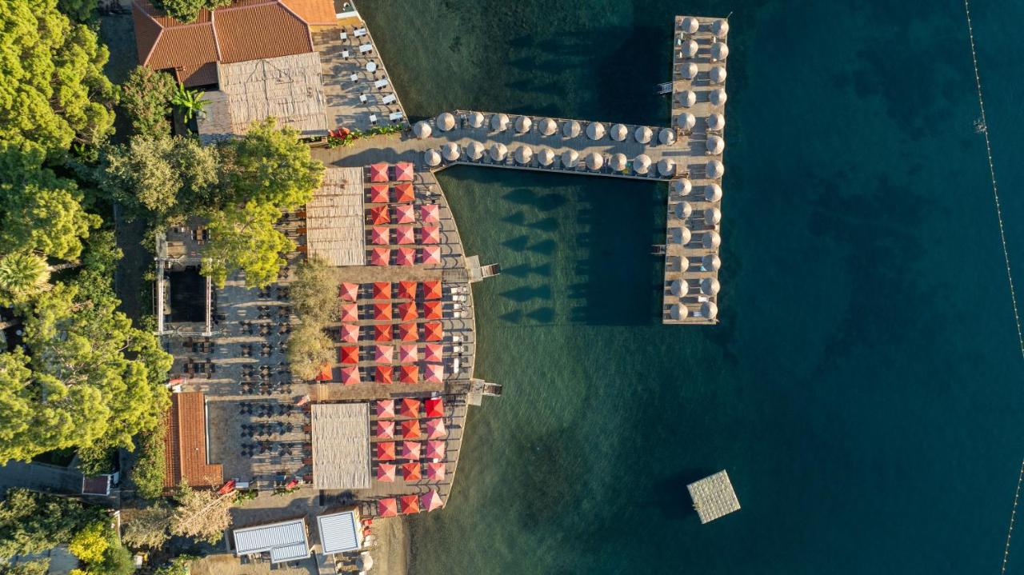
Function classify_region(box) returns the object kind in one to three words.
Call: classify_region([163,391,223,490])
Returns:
shed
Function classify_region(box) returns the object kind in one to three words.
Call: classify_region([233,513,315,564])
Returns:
building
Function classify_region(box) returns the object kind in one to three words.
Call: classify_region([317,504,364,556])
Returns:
building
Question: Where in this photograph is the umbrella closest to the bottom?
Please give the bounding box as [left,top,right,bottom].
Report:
[354,552,375,573]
